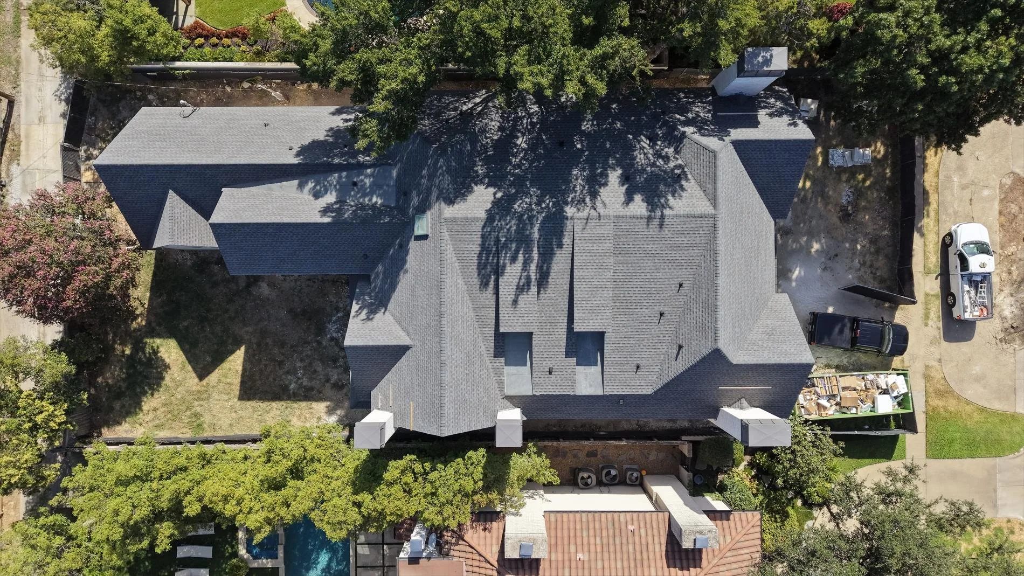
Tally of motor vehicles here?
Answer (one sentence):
The count of motor vehicles comes to 2.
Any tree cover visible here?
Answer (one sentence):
Yes, tree cover shows up in the scene.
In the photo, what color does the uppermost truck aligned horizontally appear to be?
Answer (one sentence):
In this view, the uppermost truck aligned horizontally is black.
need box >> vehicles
[804,313,911,359]
[943,222,996,325]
